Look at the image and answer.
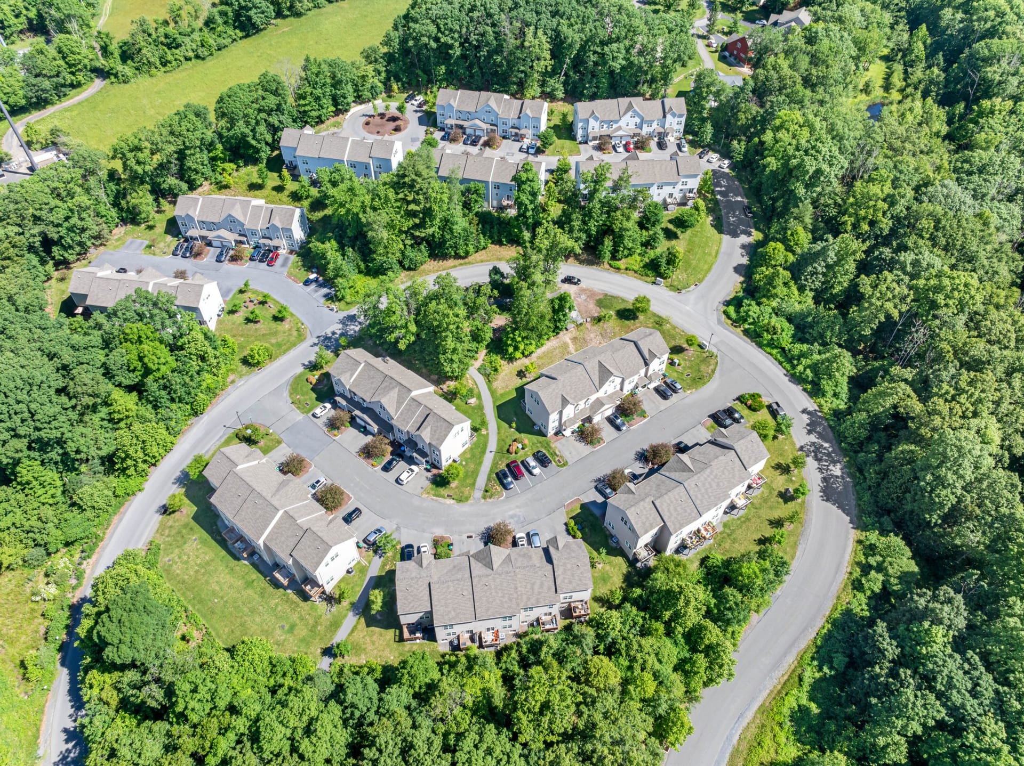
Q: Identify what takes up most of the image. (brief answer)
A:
trees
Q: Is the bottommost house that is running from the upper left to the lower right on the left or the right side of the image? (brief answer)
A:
left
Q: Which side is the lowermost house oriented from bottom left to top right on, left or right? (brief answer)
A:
right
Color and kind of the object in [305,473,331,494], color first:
white car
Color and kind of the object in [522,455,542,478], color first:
white car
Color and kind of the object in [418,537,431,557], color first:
white vehicle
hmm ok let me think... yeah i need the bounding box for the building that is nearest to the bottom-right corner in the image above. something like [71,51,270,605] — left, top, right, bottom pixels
[606,422,775,571]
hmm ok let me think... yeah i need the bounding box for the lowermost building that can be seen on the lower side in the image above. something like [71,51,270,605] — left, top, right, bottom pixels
[395,535,594,654]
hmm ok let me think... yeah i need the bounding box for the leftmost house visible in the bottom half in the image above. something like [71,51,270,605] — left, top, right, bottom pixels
[202,442,359,606]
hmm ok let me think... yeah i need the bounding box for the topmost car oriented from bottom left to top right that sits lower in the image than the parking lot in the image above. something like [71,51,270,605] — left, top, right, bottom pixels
[310,401,334,420]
